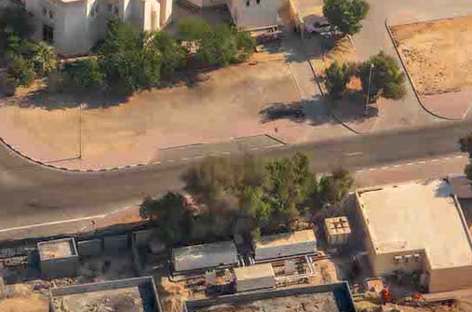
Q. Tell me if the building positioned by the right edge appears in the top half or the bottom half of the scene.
bottom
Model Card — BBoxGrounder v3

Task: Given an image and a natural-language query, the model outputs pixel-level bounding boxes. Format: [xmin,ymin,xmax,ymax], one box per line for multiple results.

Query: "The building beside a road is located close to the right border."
[354,180,472,291]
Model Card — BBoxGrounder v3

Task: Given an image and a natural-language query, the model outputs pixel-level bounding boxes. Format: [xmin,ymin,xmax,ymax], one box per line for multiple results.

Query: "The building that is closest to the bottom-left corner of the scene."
[170,238,238,272]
